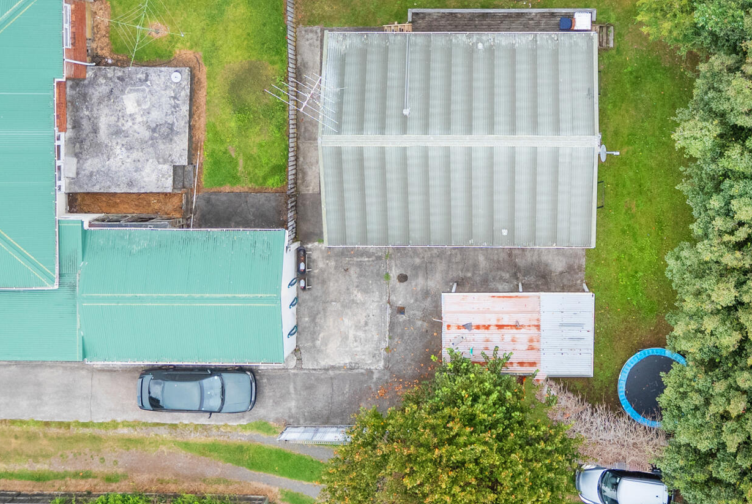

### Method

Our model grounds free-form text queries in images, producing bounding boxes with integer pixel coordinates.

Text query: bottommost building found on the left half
[0,220,299,366]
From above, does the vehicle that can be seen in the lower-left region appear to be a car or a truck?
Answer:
car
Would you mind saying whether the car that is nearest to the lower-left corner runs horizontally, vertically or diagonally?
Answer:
horizontally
